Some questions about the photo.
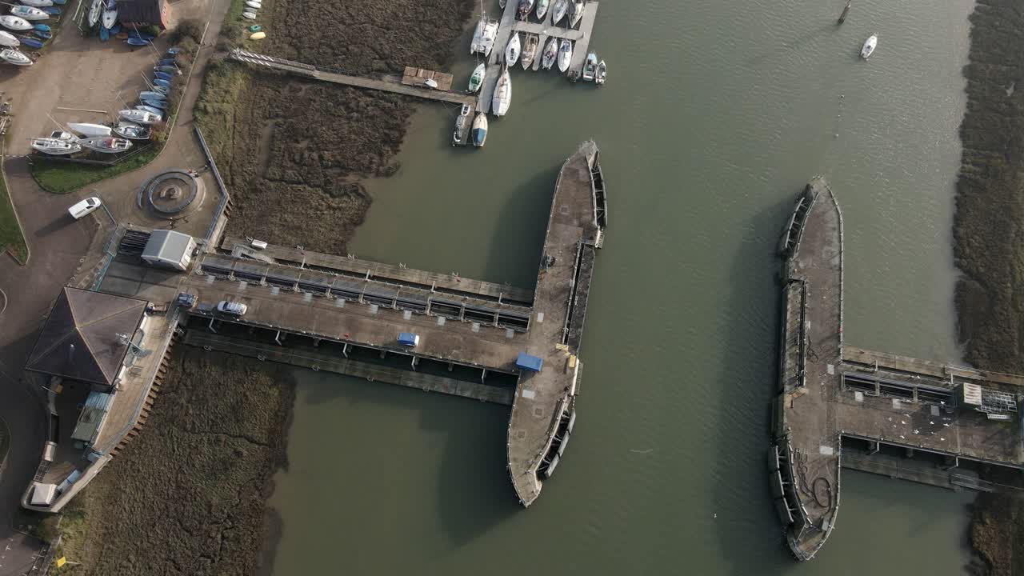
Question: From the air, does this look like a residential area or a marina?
marina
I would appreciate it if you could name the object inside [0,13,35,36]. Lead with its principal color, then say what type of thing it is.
white boat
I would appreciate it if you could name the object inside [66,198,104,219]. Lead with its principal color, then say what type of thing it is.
white vehicle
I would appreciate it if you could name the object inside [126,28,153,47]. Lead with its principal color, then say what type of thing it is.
blue boat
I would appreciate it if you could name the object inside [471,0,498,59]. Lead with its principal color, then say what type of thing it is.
white boat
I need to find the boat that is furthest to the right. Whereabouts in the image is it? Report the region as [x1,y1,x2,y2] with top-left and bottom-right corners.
[858,33,877,62]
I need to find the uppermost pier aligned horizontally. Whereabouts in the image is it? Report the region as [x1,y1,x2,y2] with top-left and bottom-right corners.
[510,20,583,41]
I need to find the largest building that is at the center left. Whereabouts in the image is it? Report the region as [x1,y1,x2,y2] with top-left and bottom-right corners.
[25,287,151,387]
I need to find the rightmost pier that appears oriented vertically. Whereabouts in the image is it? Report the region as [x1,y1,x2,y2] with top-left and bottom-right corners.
[765,175,846,559]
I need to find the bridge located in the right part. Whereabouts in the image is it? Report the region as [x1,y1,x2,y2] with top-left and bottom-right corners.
[828,347,1024,508]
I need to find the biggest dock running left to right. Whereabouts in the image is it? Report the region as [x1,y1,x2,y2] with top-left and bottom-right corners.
[277,59,478,147]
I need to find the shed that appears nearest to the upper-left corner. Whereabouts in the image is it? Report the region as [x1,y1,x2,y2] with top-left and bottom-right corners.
[115,0,167,31]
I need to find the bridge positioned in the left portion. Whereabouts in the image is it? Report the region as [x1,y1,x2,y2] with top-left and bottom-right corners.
[182,235,537,407]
